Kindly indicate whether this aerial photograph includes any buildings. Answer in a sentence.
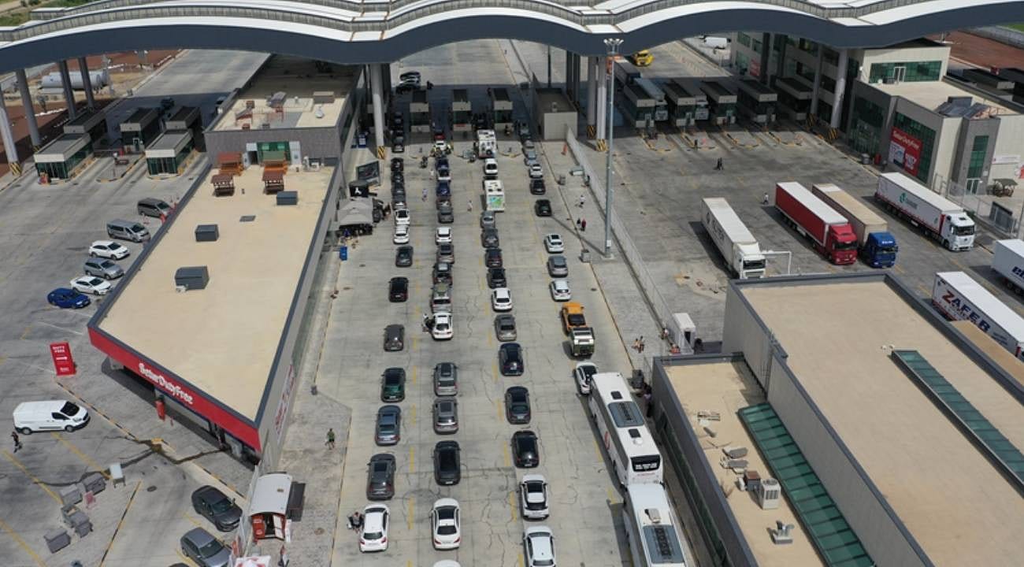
Yes, the picture does show a building.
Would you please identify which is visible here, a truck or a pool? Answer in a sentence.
Visible in the photo is a truck.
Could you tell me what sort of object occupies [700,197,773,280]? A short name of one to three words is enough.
truck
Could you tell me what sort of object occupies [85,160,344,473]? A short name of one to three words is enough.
building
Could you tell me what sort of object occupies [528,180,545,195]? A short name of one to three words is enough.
car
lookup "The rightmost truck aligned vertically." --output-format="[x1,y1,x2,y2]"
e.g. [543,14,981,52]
[999,241,1024,297]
